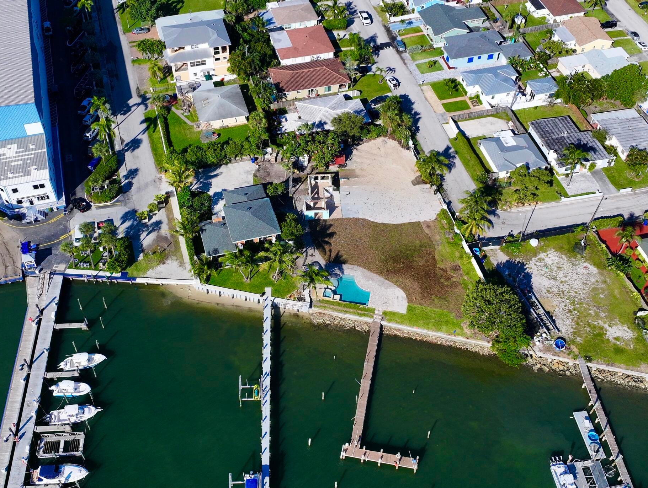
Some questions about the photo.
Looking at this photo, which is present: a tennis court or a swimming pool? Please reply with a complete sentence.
Of the two, only a swimming pool appears.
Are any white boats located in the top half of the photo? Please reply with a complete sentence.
No, no white boat can be made out in the top half of the photo.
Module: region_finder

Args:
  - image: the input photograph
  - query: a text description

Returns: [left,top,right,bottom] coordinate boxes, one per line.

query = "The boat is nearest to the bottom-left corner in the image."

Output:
[26,463,91,487]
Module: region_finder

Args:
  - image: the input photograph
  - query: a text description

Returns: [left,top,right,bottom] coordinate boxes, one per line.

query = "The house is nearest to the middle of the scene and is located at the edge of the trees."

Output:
[199,185,281,262]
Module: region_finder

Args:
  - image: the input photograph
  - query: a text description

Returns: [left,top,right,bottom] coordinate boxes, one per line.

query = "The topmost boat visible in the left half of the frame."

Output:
[58,352,108,372]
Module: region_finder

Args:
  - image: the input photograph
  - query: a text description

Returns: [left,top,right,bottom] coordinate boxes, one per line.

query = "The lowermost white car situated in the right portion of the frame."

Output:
[385,74,401,88]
